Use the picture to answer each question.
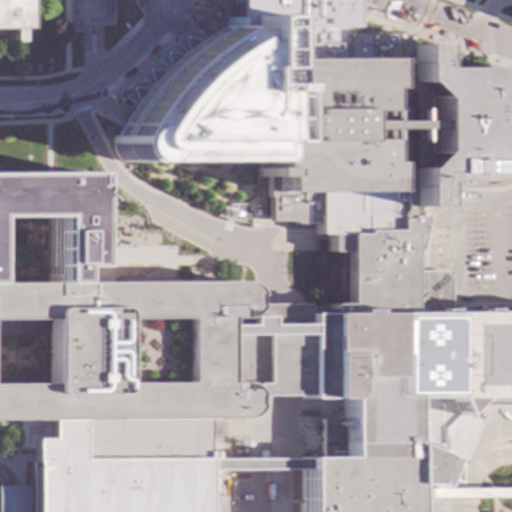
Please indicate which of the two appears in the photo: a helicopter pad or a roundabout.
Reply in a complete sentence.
Visible in the photo is a helicopter pad.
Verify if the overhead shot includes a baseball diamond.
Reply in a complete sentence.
No, the photo shows no baseball diamond.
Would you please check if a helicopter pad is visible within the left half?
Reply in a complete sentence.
No, no helicopter pad appears within the left half.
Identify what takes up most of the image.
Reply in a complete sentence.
The largest share of the image is taken up by buildings.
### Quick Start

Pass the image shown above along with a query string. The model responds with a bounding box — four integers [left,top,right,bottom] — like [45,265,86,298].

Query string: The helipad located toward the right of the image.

[414,317,471,394]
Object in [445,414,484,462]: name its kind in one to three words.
building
